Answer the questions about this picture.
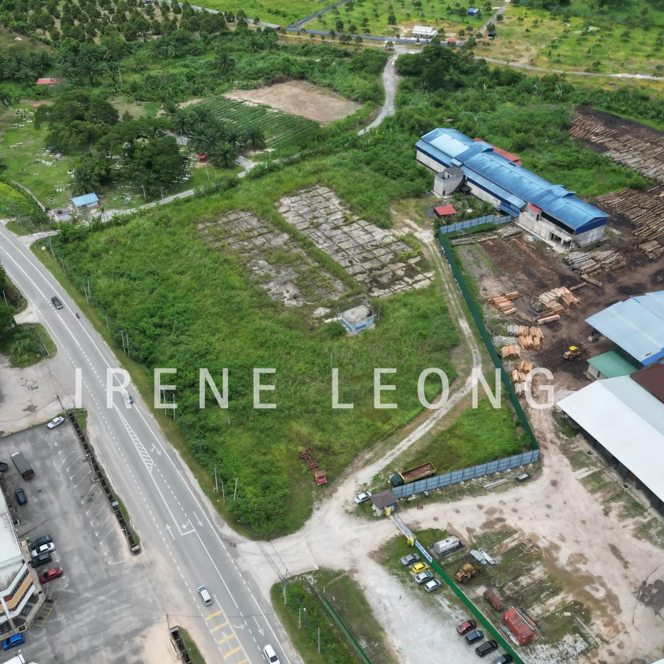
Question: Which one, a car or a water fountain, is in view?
car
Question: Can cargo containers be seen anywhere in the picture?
Yes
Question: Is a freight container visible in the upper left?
No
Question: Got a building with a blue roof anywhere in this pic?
Yes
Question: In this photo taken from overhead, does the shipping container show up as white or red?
red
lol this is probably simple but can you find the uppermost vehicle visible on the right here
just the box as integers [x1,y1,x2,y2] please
[562,344,588,360]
